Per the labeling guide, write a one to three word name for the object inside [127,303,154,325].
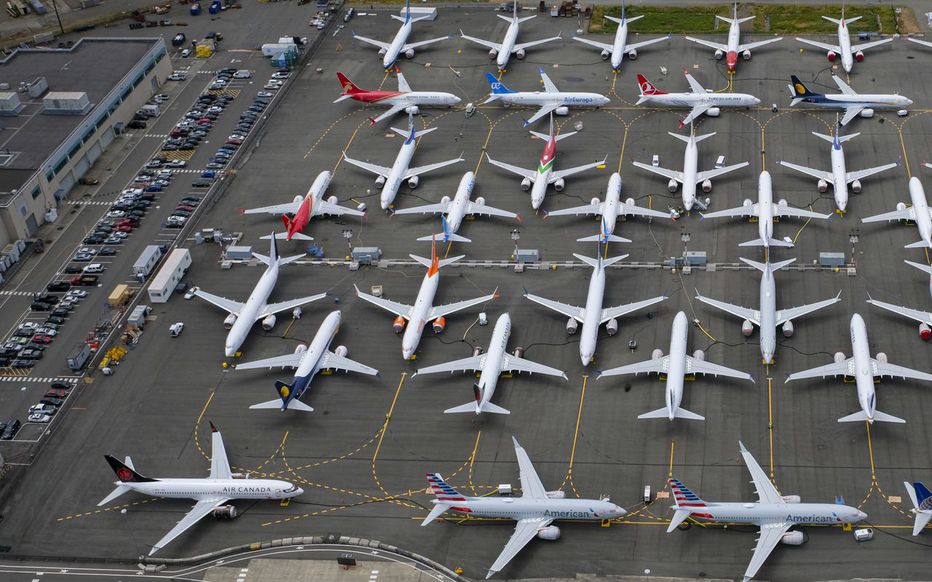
truck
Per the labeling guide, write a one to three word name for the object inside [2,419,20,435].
car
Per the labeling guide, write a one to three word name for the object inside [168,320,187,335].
vehicle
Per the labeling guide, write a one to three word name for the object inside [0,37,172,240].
building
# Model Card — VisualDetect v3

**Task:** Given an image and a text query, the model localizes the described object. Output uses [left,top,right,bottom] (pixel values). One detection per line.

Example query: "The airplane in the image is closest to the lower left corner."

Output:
[94,419,302,558]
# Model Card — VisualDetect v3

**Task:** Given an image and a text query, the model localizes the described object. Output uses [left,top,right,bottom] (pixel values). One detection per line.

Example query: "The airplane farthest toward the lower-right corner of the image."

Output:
[902,481,932,536]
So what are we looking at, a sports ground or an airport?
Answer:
airport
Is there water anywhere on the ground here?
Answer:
No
